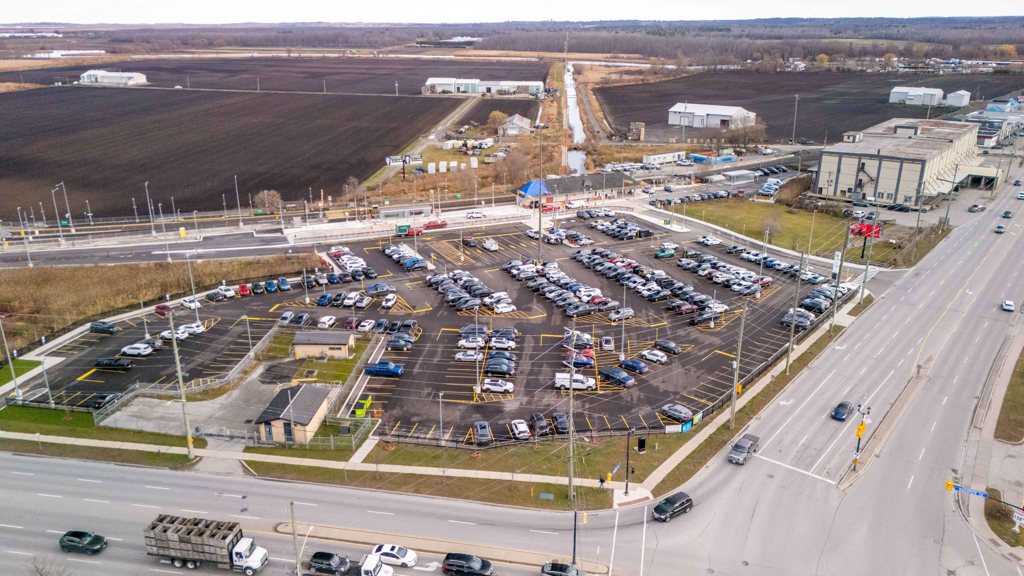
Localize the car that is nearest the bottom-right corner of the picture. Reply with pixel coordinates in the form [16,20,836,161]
[830,402,855,423]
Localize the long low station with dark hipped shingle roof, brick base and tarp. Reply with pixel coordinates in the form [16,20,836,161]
[510,172,649,208]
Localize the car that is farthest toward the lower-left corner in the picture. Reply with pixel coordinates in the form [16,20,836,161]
[57,532,109,558]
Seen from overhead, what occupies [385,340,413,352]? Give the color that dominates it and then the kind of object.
gray vehicle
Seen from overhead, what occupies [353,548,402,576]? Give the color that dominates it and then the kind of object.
white truck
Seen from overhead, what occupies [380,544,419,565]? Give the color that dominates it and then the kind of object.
white car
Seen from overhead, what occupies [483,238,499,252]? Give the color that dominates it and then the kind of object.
white vehicle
